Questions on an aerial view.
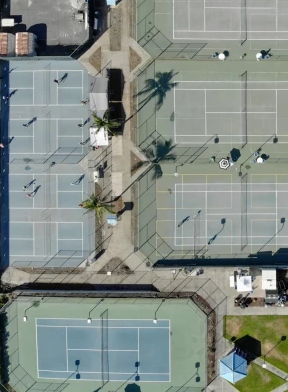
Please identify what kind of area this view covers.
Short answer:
sports ground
